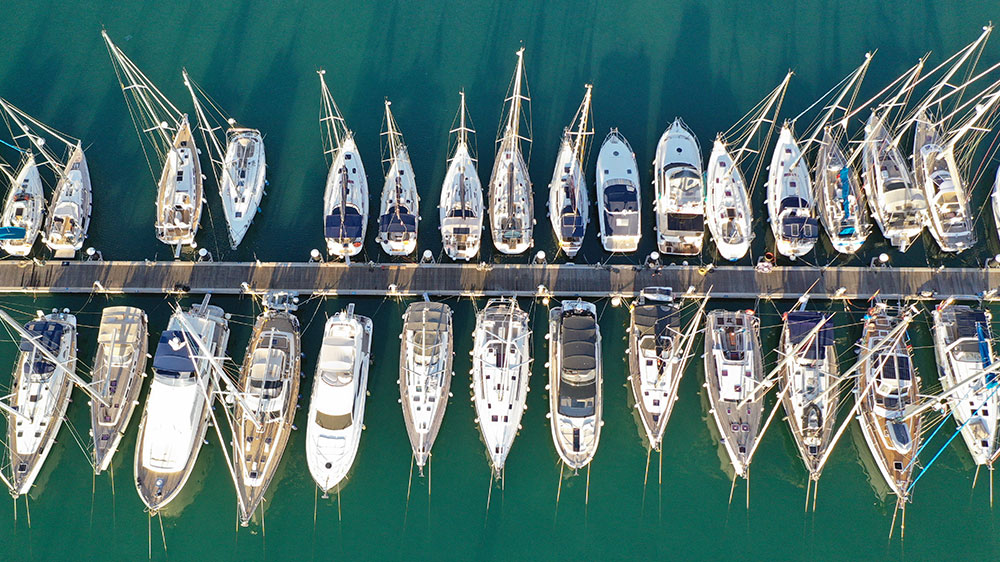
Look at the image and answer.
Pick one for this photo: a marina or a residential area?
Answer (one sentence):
What you see here is a marina.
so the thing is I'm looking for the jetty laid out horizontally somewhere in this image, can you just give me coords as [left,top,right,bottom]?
[0,261,1000,300]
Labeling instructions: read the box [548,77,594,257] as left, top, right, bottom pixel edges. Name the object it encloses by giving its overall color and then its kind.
white boat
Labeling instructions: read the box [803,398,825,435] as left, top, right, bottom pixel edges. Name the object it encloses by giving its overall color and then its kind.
gray boat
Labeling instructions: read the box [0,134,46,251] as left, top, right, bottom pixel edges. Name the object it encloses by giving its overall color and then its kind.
white boat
